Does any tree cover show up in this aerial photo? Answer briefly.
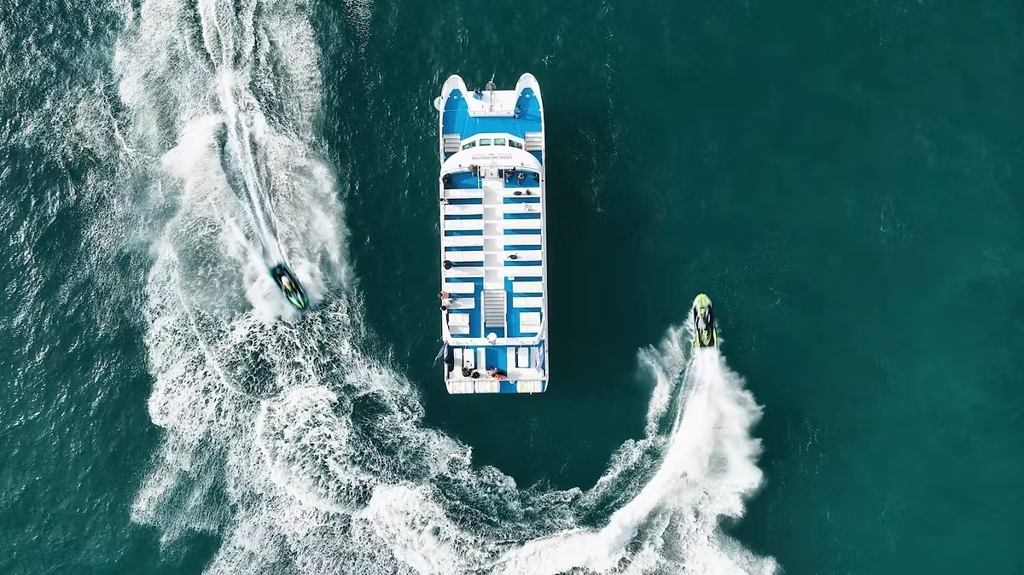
No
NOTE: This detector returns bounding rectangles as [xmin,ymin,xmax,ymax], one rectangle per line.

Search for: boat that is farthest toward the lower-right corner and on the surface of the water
[694,294,715,349]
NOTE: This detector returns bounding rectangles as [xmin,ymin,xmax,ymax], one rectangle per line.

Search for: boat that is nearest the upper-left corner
[270,262,307,311]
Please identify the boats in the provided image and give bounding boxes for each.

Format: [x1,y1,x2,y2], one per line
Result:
[270,262,307,311]
[434,69,550,395]
[694,294,715,349]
